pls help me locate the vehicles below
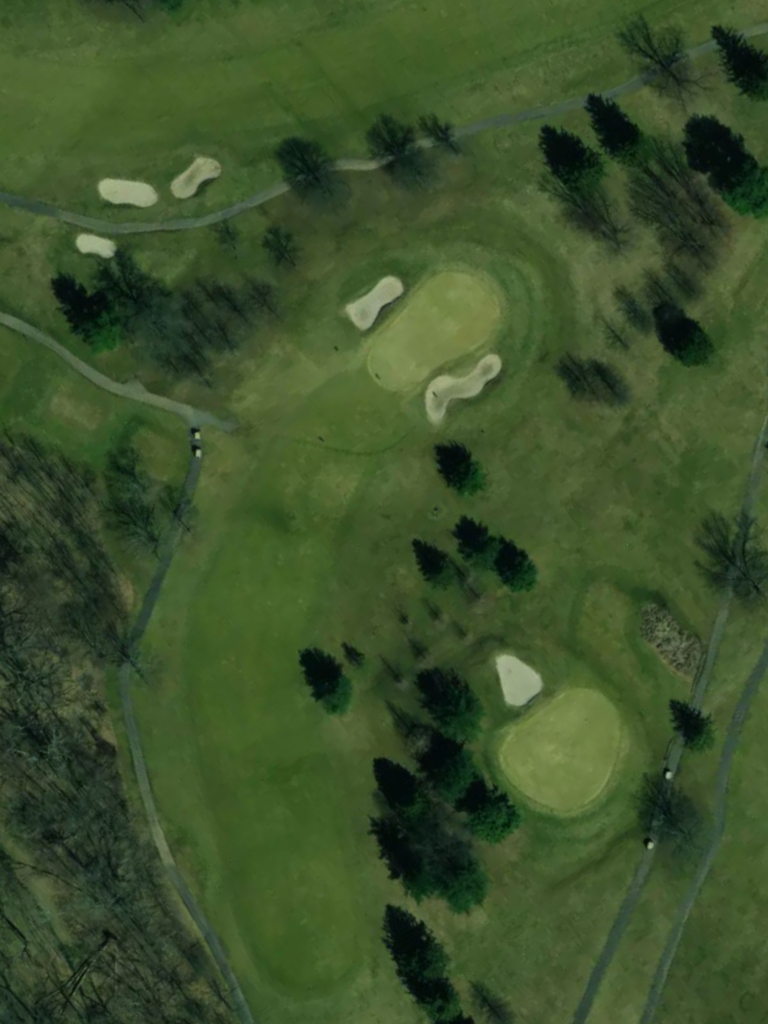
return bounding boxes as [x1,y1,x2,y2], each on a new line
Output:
[646,839,654,851]
[194,430,200,441]
[195,447,201,458]
[664,769,673,781]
